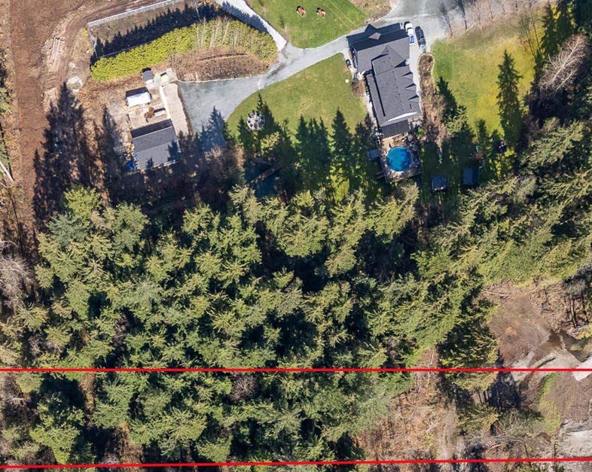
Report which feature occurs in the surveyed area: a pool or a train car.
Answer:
pool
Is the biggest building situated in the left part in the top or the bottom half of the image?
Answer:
top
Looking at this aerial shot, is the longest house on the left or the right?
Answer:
right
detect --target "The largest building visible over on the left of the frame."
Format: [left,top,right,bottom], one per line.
[132,127,182,172]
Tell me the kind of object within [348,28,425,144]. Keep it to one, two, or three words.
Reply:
house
